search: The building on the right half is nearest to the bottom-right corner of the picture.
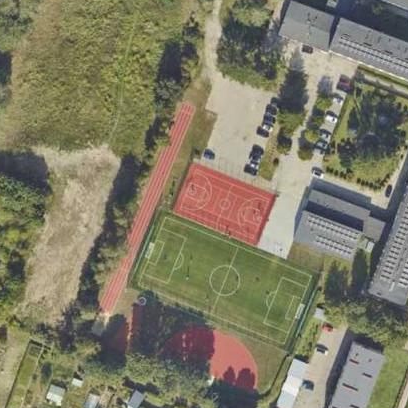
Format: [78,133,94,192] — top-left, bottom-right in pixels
[328,341,385,408]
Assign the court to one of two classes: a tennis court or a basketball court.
basketball court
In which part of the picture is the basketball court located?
center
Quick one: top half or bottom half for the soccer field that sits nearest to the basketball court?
bottom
